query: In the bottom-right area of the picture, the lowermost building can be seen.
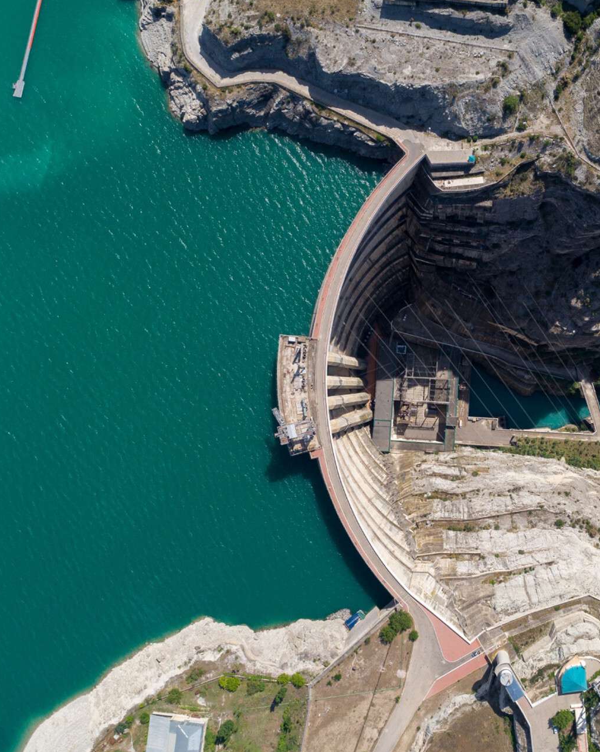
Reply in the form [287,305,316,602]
[570,704,586,735]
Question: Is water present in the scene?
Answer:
Yes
